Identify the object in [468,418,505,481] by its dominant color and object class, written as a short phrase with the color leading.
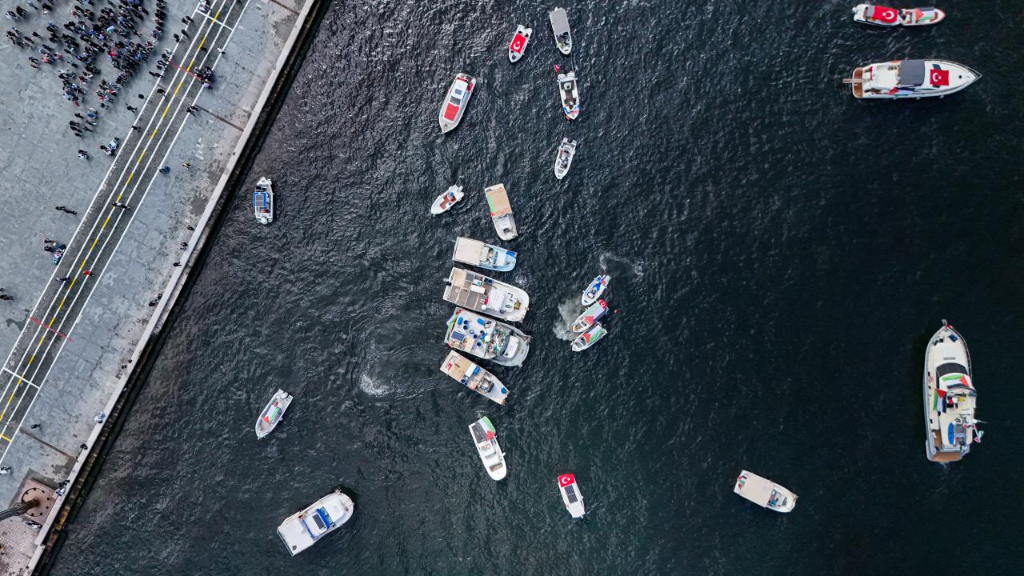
white boat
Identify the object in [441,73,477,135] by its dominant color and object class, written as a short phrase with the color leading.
white boat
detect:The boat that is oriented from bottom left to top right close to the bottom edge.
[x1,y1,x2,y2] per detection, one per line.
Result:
[277,489,355,553]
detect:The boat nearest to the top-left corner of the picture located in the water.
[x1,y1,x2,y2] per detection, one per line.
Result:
[254,176,275,224]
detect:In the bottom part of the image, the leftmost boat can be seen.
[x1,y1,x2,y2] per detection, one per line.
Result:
[255,388,294,439]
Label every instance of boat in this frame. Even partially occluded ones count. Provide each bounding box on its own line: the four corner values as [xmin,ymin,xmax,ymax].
[733,470,798,510]
[559,472,585,518]
[851,5,903,27]
[583,276,608,305]
[440,350,509,405]
[441,73,477,135]
[843,56,982,100]
[573,301,608,331]
[550,6,572,55]
[557,71,579,121]
[447,308,532,367]
[571,321,606,350]
[901,8,946,26]
[277,489,355,553]
[556,138,577,179]
[484,183,516,241]
[922,319,986,461]
[431,181,464,214]
[443,268,530,319]
[453,237,517,270]
[254,176,275,224]
[508,25,533,62]
[468,418,505,481]
[255,388,294,439]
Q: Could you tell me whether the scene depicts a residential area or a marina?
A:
marina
